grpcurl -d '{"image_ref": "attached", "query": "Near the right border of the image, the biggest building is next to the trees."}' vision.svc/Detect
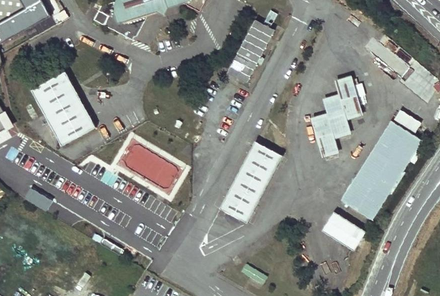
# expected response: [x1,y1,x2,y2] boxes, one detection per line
[340,121,422,220]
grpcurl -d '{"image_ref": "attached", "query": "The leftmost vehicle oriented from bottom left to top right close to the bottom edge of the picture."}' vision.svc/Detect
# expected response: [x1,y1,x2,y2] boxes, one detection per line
[75,271,92,292]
